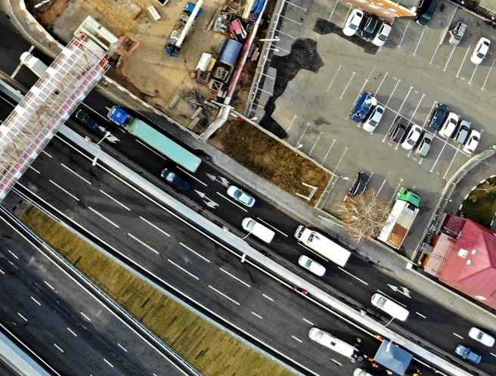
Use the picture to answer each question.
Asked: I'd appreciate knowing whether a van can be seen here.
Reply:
Yes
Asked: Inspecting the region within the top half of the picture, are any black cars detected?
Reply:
Yes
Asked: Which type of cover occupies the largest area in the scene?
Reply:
paved ground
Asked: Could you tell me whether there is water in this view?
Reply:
No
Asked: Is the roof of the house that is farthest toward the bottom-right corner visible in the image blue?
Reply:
No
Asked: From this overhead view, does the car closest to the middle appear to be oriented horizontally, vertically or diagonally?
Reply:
diagonally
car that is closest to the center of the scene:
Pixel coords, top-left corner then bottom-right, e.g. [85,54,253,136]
[226,183,257,209]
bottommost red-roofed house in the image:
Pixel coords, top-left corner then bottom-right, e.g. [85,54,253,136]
[411,212,496,310]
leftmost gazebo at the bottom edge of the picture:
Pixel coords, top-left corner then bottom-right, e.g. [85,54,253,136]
[367,345,412,376]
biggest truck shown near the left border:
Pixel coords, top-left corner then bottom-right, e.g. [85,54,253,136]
[17,48,51,78]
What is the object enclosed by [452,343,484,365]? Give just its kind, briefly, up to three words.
car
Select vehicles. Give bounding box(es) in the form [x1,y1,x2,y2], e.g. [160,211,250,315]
[159,167,194,195]
[296,254,327,279]
[426,103,449,131]
[413,0,440,27]
[102,104,207,174]
[386,116,410,145]
[459,129,483,156]
[306,325,364,368]
[350,365,376,376]
[357,14,379,41]
[74,110,102,132]
[237,215,279,246]
[287,222,358,272]
[226,183,257,209]
[412,131,433,160]
[449,118,472,147]
[341,7,365,38]
[366,291,415,326]
[350,91,376,123]
[399,124,423,153]
[345,170,372,200]
[452,343,484,365]
[361,104,386,134]
[468,37,492,66]
[437,111,459,140]
[17,48,51,78]
[445,19,469,47]
[465,326,496,349]
[370,20,392,48]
